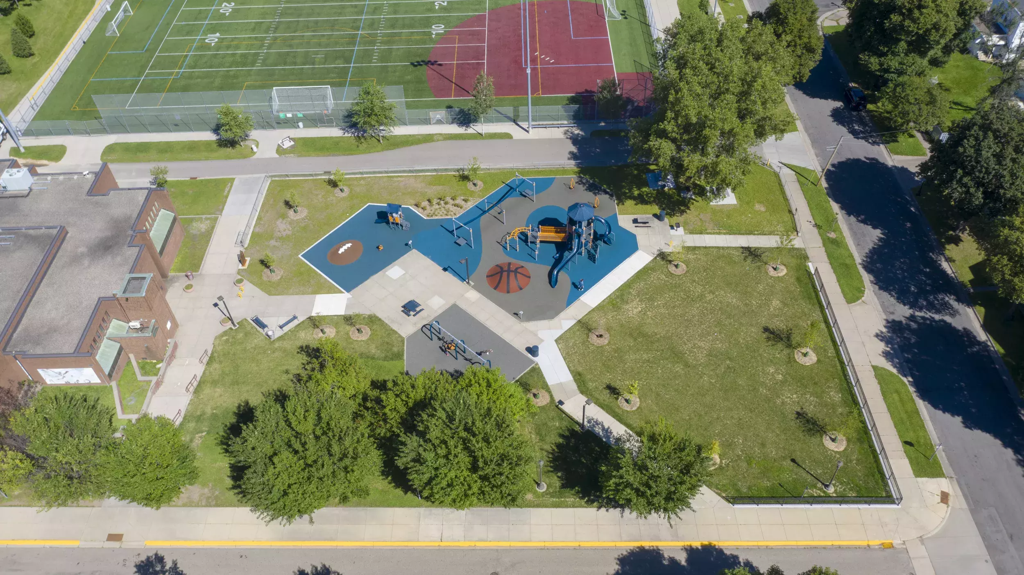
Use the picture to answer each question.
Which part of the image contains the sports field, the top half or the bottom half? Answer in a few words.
top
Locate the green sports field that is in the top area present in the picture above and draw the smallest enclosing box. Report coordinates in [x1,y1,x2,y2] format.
[22,0,663,134]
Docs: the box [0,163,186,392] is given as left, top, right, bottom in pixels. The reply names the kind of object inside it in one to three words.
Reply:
building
